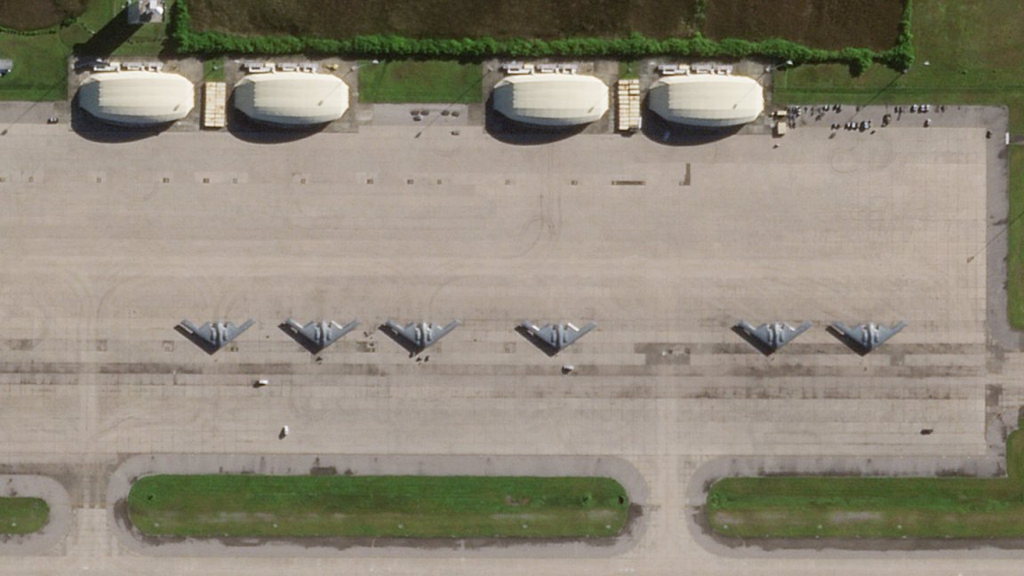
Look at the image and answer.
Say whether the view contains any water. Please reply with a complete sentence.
No, water can't be seen anywhere here.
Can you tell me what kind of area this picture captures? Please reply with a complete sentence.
It's an airport.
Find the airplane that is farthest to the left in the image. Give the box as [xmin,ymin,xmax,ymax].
[180,319,257,348]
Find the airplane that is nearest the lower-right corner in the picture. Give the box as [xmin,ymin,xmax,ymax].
[832,320,907,348]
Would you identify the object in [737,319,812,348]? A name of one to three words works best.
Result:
airplane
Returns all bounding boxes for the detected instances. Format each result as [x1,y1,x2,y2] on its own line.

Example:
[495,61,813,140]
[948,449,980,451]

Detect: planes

[521,320,597,349]
[832,320,907,348]
[284,318,361,347]
[180,319,257,348]
[737,319,812,348]
[385,318,462,347]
